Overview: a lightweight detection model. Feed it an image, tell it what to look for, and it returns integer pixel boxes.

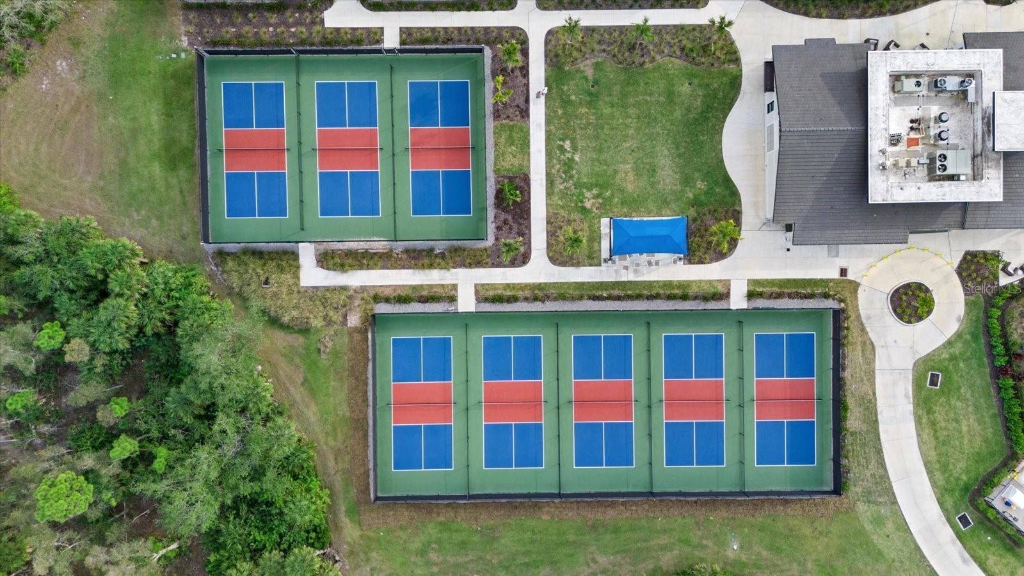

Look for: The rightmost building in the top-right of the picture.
[763,32,1024,246]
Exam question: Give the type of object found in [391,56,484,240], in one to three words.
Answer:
sports court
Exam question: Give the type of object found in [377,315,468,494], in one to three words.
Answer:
sports court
